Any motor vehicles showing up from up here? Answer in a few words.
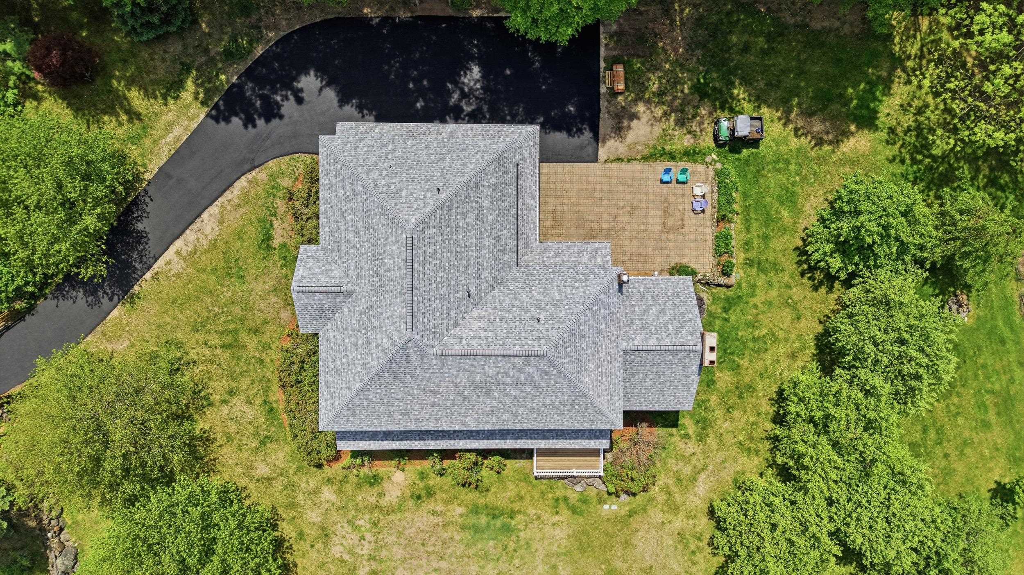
Yes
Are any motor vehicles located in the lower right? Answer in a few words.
No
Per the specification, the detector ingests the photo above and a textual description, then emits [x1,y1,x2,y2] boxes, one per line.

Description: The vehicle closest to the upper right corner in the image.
[713,116,765,146]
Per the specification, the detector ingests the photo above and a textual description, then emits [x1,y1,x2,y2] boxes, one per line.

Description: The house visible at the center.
[292,122,715,477]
